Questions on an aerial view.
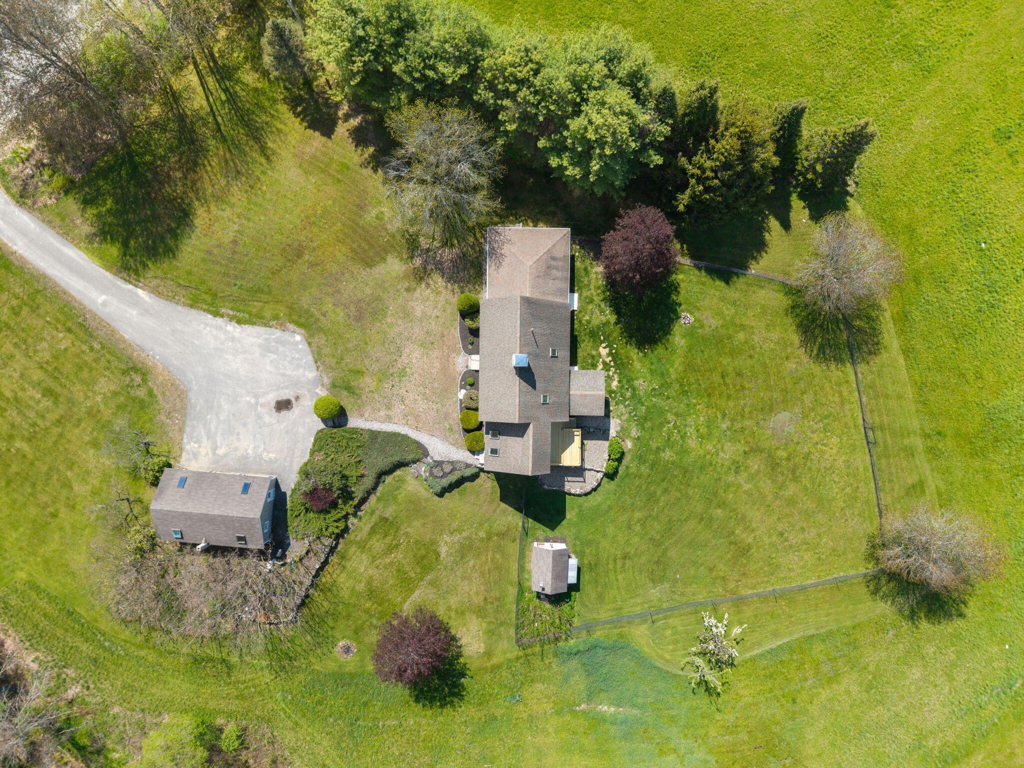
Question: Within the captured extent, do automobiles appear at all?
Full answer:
No, the picture doesn't show any automobile.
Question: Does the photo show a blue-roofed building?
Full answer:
No, the frame has no blue-roofed building in it.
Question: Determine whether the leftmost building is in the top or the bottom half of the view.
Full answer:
It is in the bottom half that the leftmost building appears.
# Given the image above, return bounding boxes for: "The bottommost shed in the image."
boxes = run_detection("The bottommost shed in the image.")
[533,538,570,598]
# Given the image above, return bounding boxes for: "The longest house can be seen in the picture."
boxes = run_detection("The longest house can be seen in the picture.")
[470,227,606,475]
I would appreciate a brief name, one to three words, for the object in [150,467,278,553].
building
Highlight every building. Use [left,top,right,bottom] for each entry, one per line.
[533,538,570,598]
[150,467,278,553]
[470,227,606,475]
